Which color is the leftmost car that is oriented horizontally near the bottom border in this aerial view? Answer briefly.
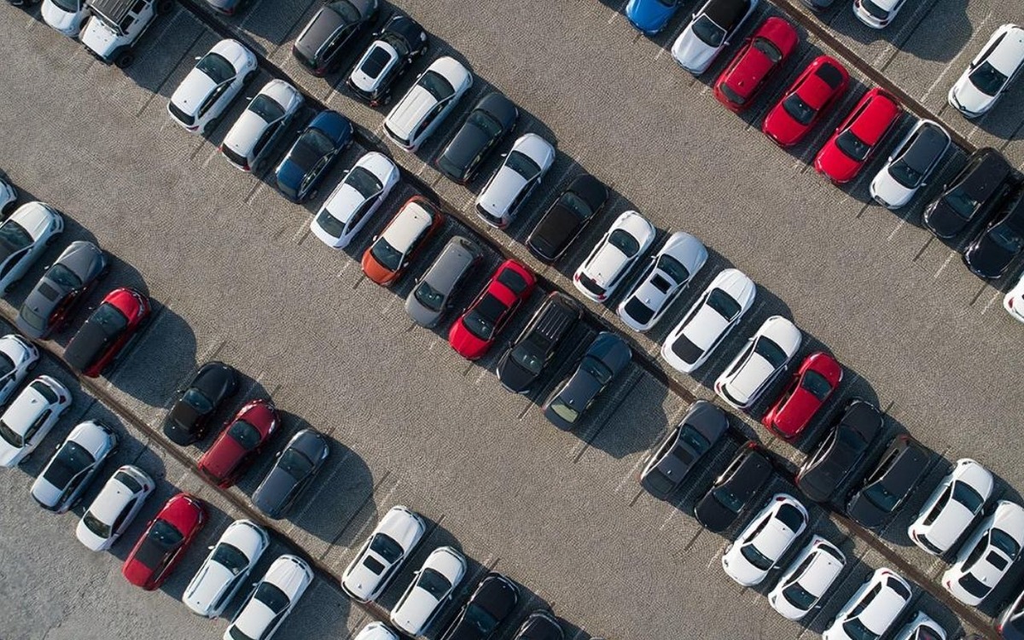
white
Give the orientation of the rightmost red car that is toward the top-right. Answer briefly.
on a diagonal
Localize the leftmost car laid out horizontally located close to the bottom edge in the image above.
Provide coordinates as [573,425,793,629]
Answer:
[349,620,396,640]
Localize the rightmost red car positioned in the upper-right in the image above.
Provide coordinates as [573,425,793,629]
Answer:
[814,86,905,184]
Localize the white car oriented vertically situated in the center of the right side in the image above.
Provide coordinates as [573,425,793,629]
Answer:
[1001,266,1024,321]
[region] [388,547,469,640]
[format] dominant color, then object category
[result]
white car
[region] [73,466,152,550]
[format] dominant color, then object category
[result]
white car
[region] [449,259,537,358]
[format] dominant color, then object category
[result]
red car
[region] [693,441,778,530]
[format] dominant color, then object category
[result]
black car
